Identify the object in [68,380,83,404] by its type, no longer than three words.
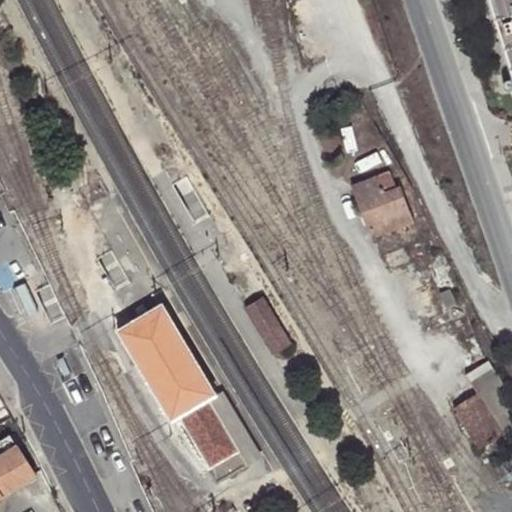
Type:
vehicle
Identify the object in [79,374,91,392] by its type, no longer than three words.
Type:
vehicle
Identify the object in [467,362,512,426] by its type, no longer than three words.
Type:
building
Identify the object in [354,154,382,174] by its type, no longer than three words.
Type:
camper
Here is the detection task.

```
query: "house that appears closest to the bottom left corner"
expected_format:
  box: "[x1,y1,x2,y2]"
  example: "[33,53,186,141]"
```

[0,445,36,502]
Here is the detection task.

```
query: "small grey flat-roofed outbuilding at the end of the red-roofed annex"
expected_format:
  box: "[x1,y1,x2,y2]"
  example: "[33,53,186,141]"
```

[211,454,247,483]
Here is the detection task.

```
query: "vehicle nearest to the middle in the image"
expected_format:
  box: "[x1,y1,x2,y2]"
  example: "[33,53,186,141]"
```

[342,194,356,220]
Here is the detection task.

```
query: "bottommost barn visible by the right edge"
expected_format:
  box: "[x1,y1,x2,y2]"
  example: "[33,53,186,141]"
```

[454,396,502,458]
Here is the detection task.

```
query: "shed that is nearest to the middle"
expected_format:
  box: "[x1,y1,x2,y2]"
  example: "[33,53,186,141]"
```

[246,294,294,354]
